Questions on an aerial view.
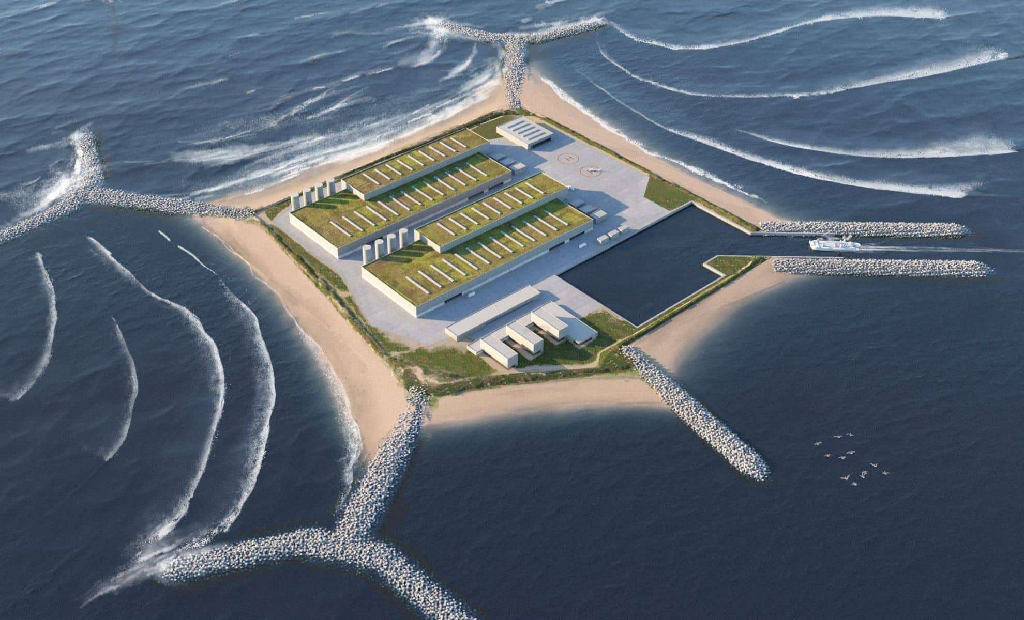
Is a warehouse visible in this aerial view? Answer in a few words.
Yes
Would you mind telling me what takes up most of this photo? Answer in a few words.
water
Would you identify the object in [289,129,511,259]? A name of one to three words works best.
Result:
warehouse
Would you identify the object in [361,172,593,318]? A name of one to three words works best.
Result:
warehouse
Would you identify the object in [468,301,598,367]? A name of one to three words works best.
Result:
building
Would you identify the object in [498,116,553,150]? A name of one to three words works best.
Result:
hangar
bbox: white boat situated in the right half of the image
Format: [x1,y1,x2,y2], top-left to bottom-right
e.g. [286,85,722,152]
[810,232,862,251]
